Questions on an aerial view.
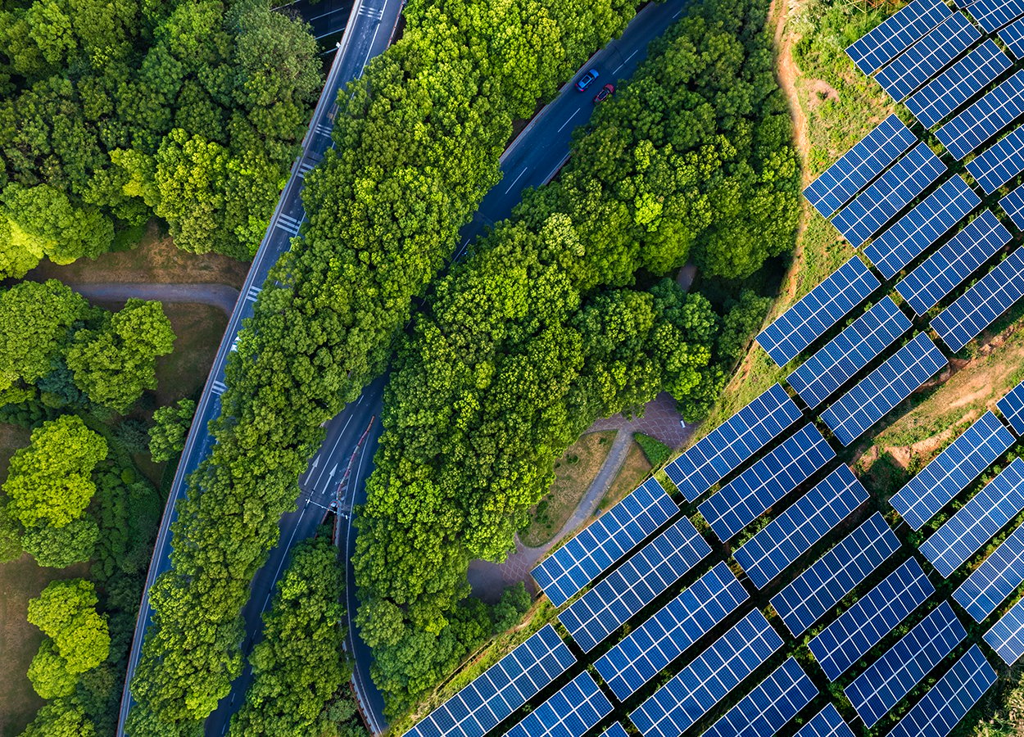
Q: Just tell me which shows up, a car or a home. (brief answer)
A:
car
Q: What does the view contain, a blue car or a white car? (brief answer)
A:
blue car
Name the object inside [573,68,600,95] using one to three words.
car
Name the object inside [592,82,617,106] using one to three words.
car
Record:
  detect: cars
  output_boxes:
[592,82,617,106]
[573,68,600,95]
